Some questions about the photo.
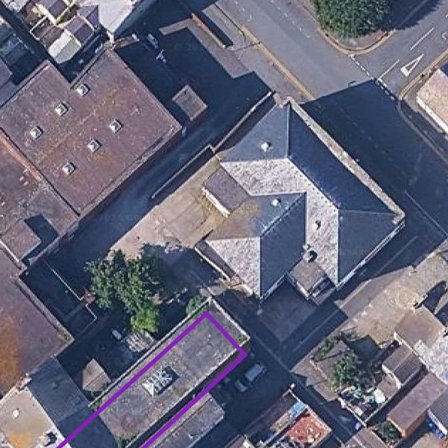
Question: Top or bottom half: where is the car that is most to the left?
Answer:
bottom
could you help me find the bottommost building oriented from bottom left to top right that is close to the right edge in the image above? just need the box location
[387,372,447,436]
